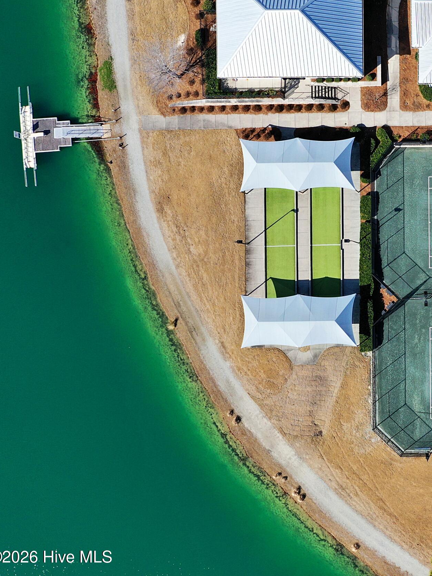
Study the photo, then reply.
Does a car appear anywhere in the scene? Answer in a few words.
No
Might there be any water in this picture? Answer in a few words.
Yes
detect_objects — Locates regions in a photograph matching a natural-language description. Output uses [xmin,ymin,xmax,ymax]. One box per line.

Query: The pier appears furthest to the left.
[32,117,74,153]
